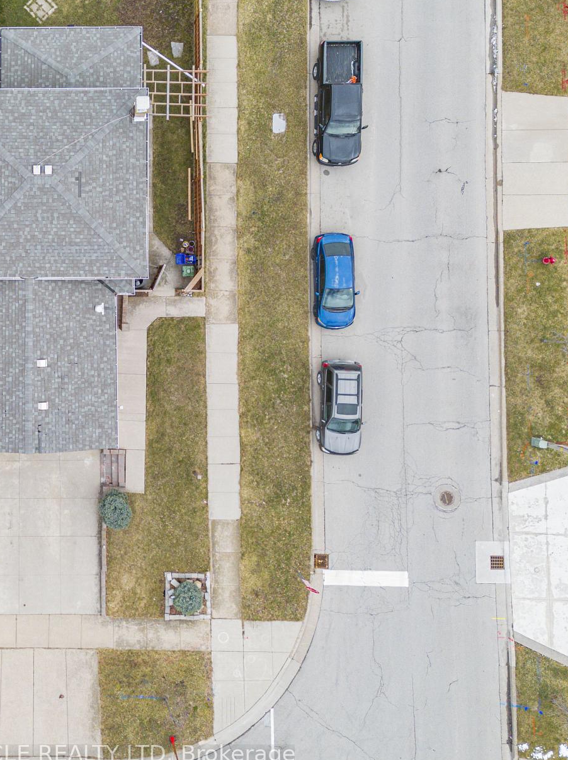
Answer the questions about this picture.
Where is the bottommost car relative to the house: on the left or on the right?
right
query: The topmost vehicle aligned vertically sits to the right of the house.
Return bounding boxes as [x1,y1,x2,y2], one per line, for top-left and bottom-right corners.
[311,40,364,165]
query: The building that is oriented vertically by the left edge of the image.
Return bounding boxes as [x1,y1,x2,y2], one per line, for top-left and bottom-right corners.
[0,24,200,453]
